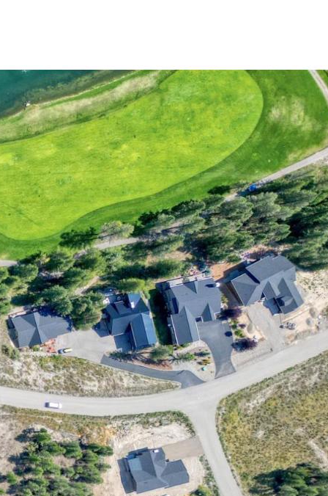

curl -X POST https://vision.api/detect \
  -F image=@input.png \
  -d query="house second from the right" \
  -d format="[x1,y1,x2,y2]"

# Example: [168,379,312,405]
[161,278,221,345]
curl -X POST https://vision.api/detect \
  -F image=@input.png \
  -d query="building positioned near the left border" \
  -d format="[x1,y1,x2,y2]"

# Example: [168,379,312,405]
[10,309,73,348]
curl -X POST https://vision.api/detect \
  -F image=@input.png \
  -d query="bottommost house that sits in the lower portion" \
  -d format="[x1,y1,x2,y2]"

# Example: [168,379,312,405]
[125,446,190,493]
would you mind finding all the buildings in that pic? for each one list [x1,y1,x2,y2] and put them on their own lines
[224,255,303,312]
[161,278,221,345]
[10,309,73,348]
[102,292,160,348]
[125,446,190,493]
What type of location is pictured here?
golf course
